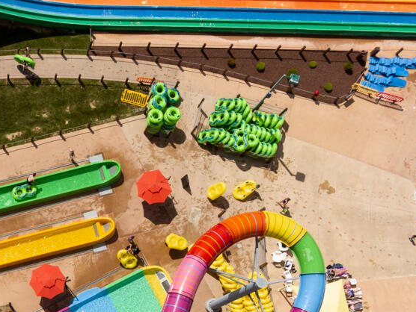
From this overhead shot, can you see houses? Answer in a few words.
No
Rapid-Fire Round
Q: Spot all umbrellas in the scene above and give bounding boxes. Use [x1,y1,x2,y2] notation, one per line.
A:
[134,172,169,206]
[32,265,65,299]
